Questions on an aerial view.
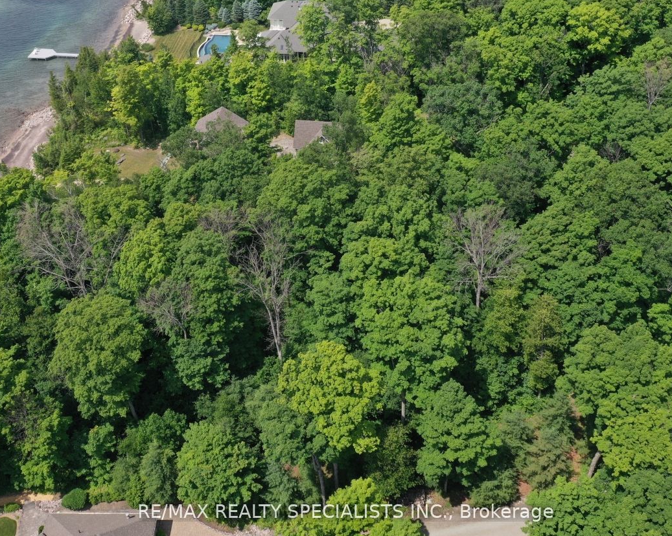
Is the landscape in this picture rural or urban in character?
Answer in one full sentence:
The area shown here is rural.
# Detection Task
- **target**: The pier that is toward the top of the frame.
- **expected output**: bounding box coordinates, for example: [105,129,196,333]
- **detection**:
[27,49,81,62]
